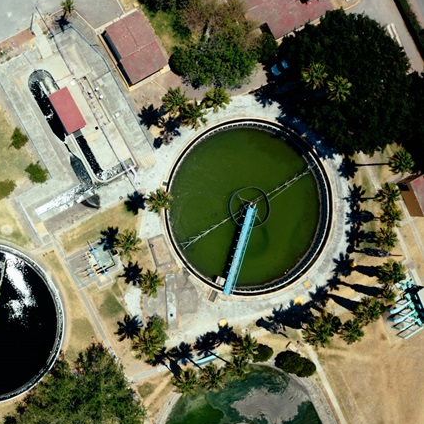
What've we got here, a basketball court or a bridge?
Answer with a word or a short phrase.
bridge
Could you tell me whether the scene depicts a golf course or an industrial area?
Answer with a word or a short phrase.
industrial area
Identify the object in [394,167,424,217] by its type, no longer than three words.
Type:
building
